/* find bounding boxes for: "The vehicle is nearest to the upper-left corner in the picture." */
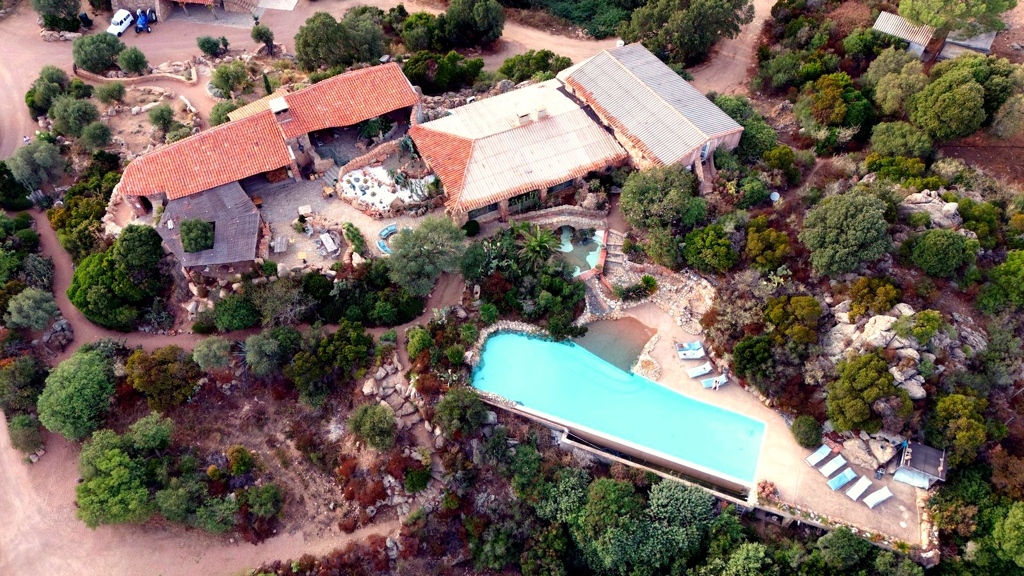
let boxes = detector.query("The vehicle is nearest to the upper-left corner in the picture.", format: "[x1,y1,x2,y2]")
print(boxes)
[106,3,133,31]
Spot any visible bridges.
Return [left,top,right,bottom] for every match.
[497,209,611,253]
